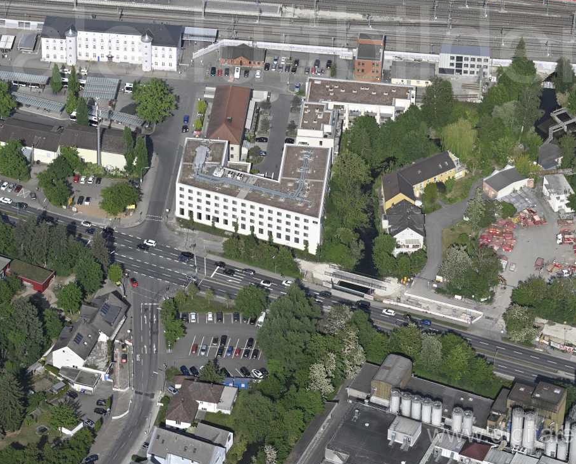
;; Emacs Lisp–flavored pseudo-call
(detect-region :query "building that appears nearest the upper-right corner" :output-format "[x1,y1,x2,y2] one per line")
[438,44,493,75]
